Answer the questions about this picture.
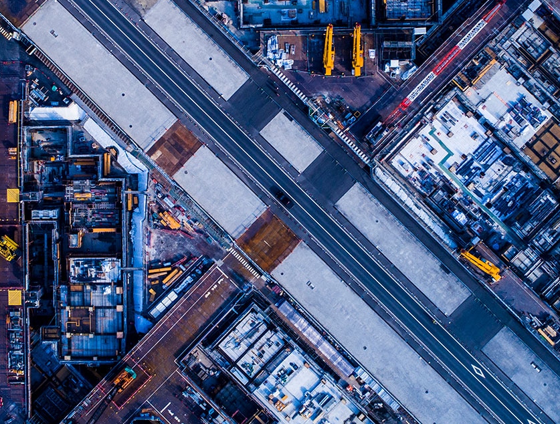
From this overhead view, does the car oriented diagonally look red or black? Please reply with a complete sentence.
From above, the car oriented diagonally appears black.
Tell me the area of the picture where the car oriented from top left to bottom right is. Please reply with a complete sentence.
You can find the car oriented from top left to bottom right in the center area of the picture.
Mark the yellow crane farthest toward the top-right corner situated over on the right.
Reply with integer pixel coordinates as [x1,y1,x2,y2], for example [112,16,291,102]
[348,23,367,76]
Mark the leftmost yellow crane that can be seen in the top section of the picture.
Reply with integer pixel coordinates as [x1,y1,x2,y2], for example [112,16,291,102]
[319,24,339,75]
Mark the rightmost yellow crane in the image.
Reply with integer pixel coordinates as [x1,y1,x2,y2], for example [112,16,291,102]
[461,255,501,283]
